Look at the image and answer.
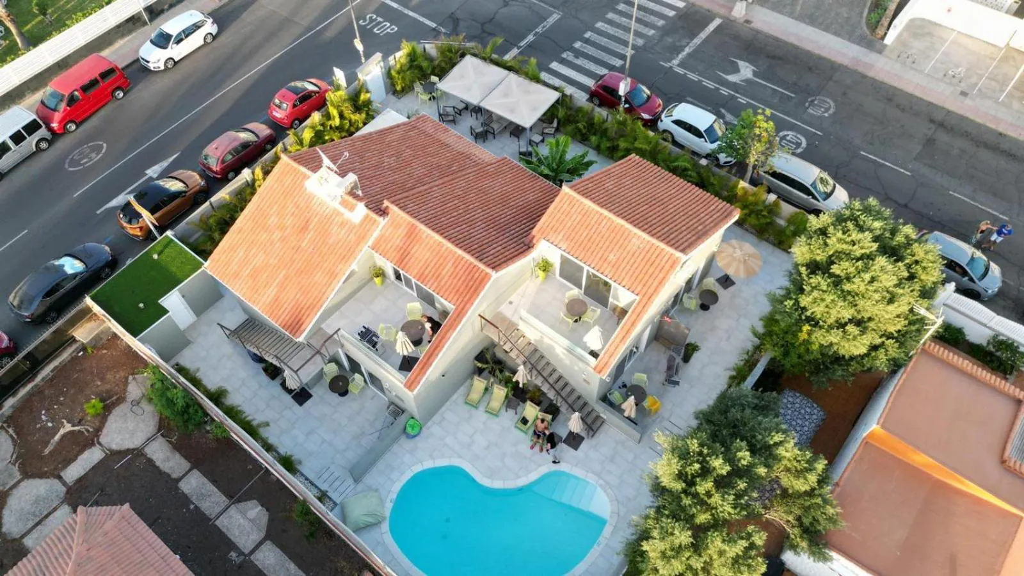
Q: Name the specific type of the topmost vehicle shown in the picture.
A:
automobile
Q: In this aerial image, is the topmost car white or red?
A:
white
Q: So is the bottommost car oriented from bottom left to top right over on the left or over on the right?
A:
left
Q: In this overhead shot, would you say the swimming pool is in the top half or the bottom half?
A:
bottom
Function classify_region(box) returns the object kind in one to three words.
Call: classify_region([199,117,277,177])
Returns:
car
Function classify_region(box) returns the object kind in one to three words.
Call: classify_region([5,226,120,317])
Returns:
car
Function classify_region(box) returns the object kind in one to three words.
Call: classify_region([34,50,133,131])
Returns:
van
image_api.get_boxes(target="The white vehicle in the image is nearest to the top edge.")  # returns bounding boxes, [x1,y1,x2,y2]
[134,10,218,74]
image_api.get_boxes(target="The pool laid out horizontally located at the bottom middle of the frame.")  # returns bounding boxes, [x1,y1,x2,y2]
[380,457,619,576]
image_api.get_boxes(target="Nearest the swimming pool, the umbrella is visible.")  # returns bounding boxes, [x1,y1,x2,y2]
[561,419,587,454]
